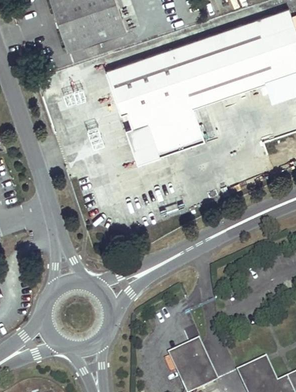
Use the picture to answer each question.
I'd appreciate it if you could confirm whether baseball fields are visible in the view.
No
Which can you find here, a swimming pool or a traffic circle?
traffic circle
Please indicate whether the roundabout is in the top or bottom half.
bottom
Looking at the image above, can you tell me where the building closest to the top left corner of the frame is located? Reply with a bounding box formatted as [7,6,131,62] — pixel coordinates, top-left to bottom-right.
[50,0,127,52]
